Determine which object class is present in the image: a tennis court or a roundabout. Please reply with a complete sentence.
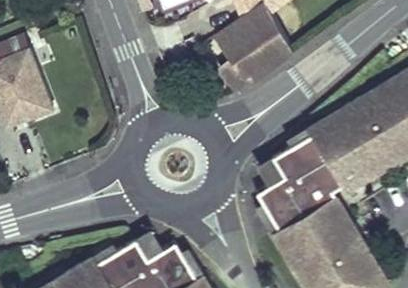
The one in the frame is a roundabout.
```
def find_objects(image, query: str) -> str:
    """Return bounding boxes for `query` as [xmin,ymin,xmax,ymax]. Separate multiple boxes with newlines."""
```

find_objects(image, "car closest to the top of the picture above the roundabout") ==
[208,14,230,27]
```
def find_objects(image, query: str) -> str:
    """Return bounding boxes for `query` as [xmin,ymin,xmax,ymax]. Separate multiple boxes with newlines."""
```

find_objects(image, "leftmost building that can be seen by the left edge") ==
[0,48,54,128]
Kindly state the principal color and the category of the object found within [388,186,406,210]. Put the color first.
white car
